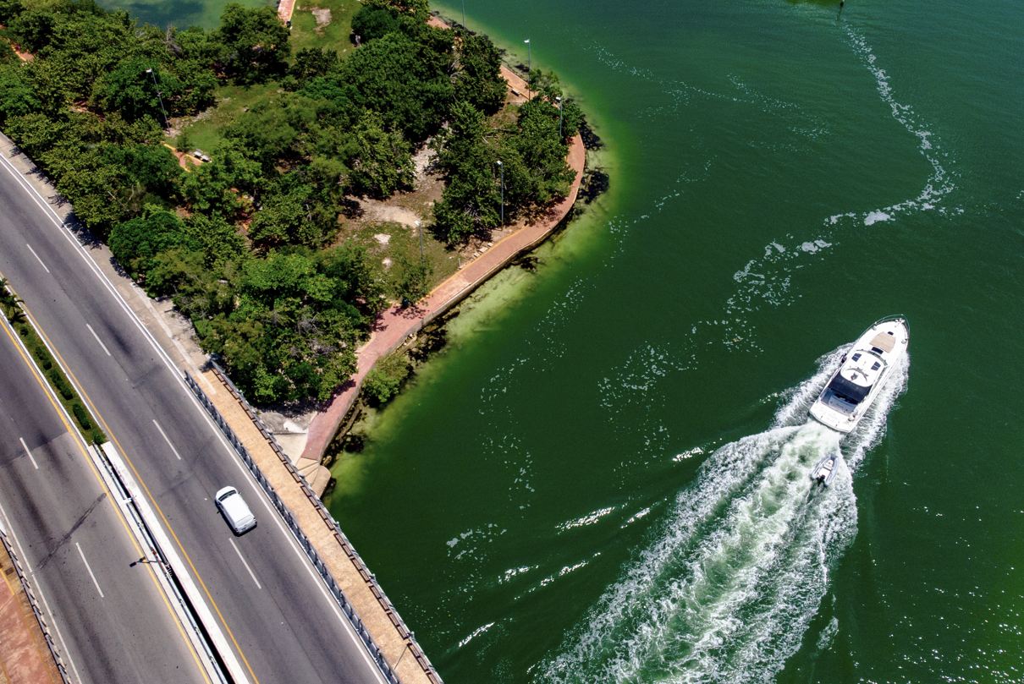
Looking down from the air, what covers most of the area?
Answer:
water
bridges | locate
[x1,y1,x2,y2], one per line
[0,371,446,684]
